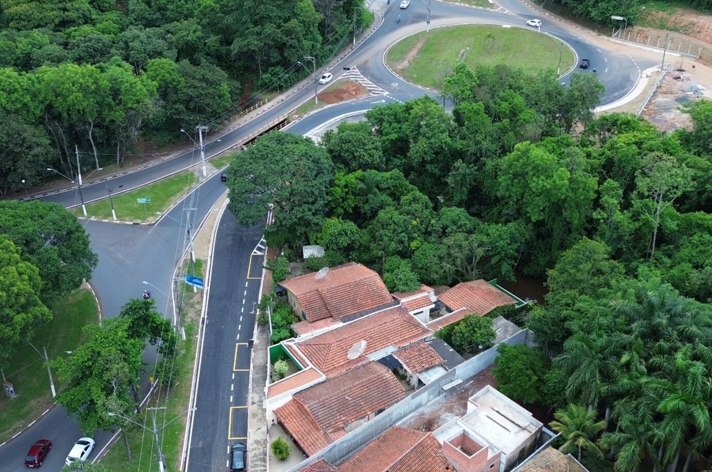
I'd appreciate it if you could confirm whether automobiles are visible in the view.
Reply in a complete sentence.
Yes, the picture does show an automobile.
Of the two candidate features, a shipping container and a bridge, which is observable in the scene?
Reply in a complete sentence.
The one in the frame is a bridge.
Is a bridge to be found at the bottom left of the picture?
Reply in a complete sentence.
No, the scene shows no bridge at the bottom left of the picture.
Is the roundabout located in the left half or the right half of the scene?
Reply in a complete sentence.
The roundabout appears in the right half of the scene.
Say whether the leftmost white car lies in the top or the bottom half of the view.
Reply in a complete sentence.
The leftmost white car is in the bottom half of the image.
